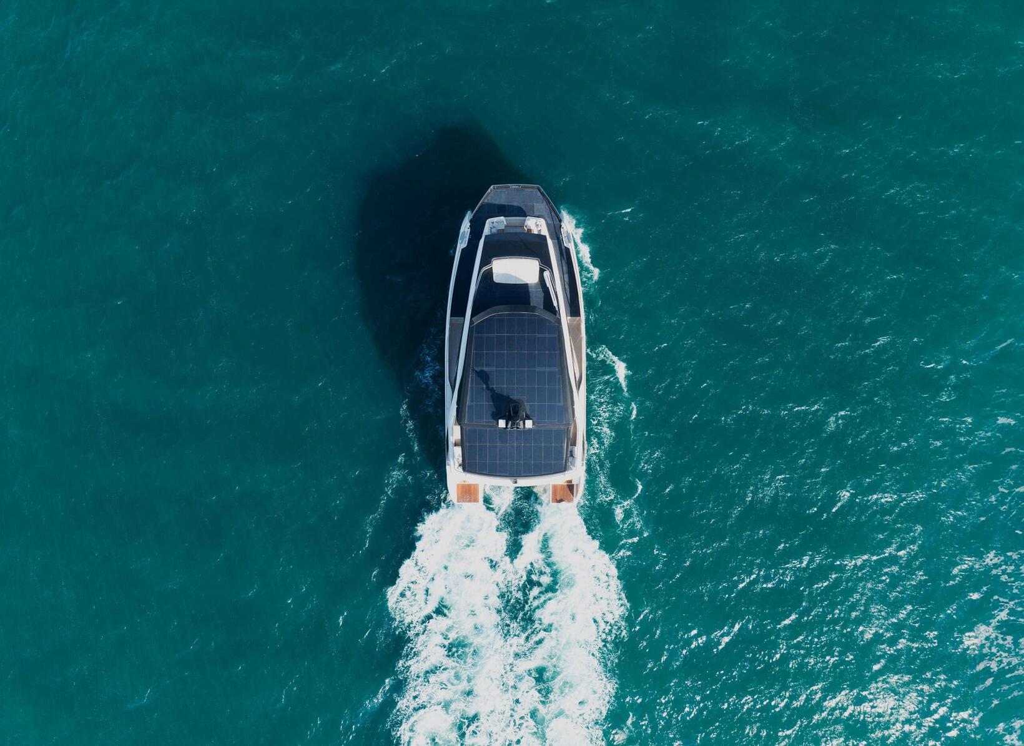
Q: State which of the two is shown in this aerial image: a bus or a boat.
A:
boat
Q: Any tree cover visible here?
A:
No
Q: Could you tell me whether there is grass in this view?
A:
No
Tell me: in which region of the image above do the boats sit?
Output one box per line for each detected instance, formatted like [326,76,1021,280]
[446,183,586,503]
